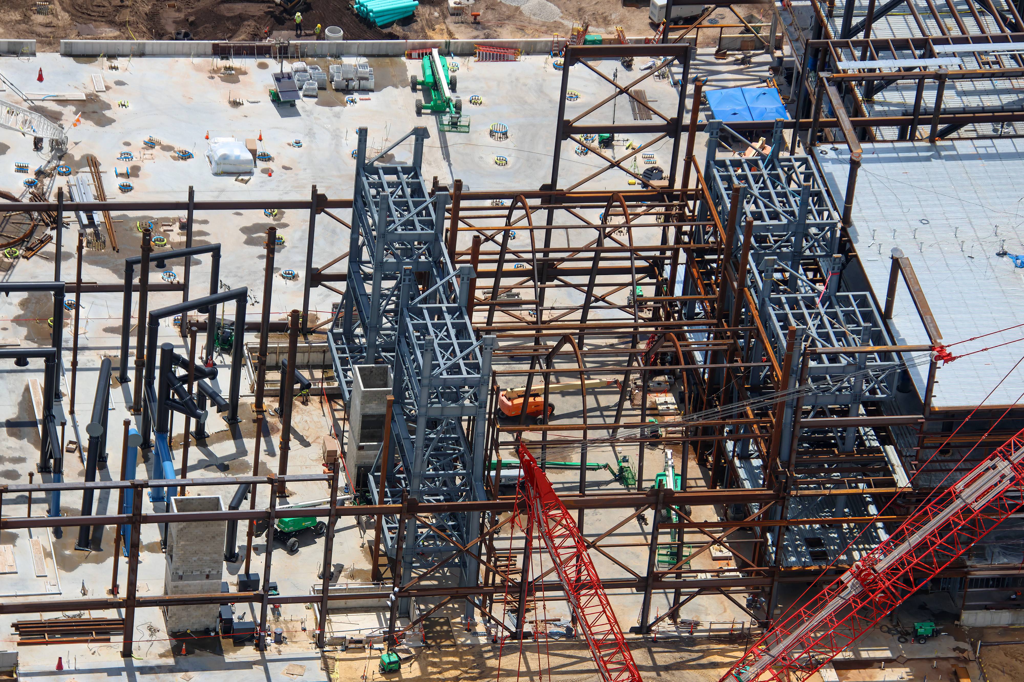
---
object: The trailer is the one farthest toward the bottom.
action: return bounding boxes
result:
[361,644,406,682]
